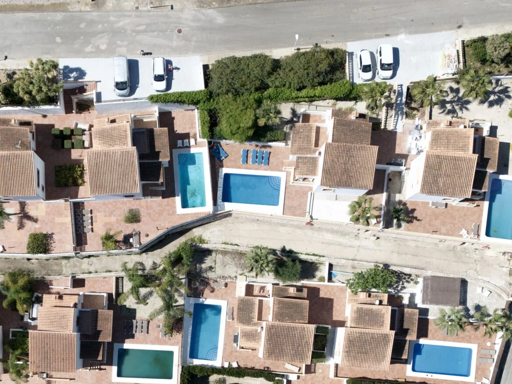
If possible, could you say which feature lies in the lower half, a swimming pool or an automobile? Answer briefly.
swimming pool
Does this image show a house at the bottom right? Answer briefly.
Yes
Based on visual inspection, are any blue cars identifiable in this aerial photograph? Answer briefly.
No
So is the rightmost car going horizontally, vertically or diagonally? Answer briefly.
vertically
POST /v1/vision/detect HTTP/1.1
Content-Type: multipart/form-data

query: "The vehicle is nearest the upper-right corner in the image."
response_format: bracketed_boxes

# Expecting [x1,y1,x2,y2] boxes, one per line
[376,42,396,81]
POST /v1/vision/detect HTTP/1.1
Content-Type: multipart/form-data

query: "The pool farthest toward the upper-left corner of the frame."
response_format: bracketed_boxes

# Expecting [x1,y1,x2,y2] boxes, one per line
[172,148,211,214]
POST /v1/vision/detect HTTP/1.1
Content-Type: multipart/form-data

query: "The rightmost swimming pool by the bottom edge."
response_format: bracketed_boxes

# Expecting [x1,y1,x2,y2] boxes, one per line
[406,340,478,382]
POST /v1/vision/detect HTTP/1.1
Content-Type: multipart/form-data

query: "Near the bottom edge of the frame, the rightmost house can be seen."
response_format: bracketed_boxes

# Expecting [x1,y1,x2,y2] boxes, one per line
[331,290,418,371]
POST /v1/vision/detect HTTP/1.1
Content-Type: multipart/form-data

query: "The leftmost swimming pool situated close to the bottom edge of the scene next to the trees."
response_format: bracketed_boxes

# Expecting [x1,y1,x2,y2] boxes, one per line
[111,343,179,384]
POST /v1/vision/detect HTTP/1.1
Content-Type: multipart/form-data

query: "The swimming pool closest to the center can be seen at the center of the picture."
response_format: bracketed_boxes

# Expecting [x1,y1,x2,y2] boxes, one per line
[216,168,286,214]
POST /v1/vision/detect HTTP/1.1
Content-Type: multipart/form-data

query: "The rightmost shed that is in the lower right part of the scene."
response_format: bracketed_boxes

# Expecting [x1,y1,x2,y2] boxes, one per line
[418,276,461,307]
